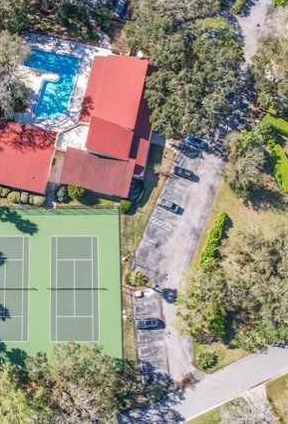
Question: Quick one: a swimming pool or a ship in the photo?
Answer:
swimming pool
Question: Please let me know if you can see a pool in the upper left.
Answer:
Yes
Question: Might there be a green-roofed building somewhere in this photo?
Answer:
No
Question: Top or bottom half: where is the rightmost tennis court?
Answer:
bottom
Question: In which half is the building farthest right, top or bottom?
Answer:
top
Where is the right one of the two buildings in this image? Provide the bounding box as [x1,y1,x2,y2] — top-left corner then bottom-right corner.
[61,56,161,198]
